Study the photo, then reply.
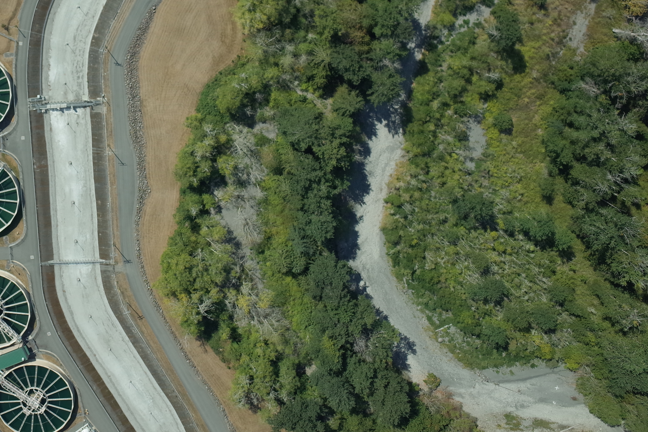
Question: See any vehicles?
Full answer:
No, the scene contains no vehicle.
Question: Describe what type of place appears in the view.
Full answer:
The area seen from above is an industrial area.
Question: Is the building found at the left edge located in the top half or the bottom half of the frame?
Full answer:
The building found at the left edge sits in the bottom half of the picture.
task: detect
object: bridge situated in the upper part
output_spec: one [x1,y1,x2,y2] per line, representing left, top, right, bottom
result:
[29,94,102,113]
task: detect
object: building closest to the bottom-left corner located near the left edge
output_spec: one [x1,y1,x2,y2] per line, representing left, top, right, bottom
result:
[0,340,31,370]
